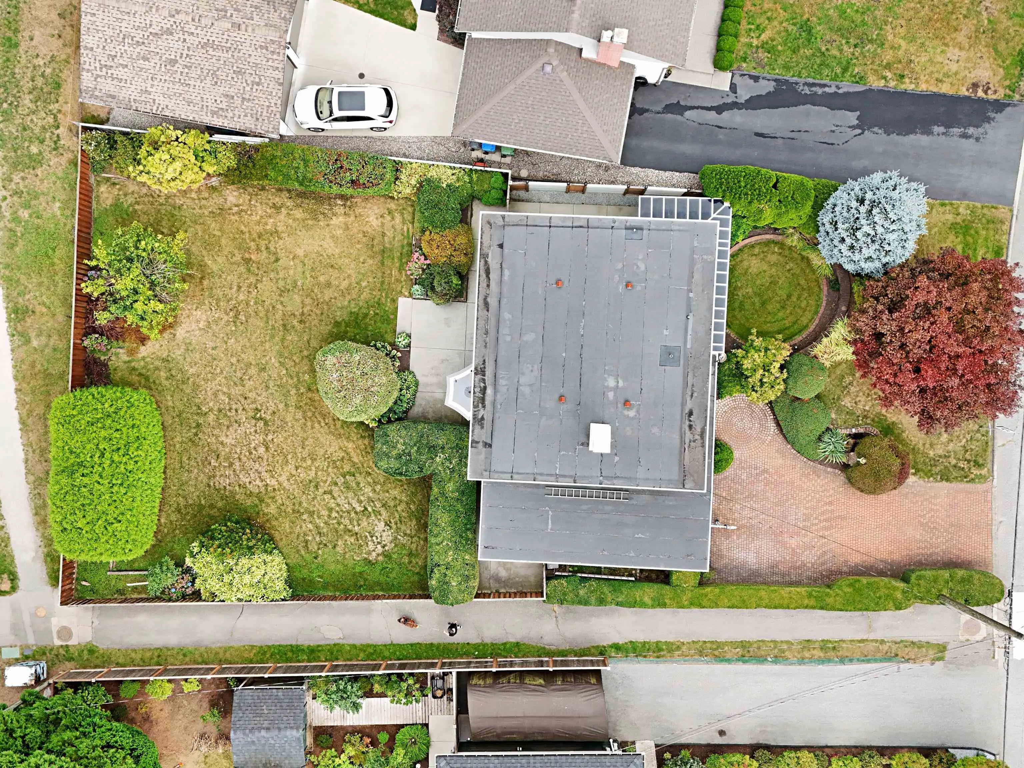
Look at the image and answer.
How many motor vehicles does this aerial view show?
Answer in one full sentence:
In total, there is 1 motor vehicle in the scene.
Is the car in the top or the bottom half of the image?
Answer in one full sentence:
The top half of the photo is where the car is.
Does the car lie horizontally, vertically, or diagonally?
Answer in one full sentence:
From this overhead view, the car appears to run horizontally.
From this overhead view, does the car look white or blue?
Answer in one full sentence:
From above, the car appears white.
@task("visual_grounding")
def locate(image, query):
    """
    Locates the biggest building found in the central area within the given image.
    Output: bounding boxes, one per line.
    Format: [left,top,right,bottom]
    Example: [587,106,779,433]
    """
[466,211,720,573]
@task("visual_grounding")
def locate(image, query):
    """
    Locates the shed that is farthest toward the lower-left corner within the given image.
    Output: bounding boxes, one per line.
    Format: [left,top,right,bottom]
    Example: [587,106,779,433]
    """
[230,677,312,768]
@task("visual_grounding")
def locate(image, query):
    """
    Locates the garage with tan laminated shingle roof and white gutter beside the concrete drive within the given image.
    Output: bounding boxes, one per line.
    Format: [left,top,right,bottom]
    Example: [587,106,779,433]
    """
[79,0,309,147]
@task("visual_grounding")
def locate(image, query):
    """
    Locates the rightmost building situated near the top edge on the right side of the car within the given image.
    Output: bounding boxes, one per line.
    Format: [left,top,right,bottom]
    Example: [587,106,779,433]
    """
[448,0,699,169]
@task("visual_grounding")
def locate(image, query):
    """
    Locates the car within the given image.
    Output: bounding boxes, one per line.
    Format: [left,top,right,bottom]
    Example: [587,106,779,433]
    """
[292,80,399,132]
